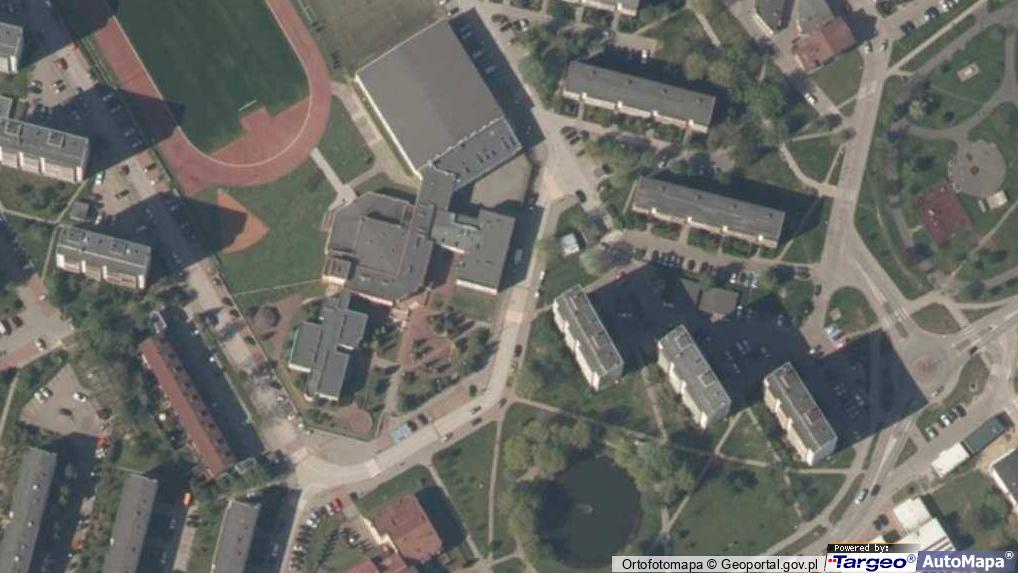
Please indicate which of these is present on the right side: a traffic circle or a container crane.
traffic circle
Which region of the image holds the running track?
top left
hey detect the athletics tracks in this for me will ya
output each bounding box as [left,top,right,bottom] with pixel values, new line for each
[77,0,332,195]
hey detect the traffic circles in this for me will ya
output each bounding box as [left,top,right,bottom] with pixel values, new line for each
[890,331,962,403]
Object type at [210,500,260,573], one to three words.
building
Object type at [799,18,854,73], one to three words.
house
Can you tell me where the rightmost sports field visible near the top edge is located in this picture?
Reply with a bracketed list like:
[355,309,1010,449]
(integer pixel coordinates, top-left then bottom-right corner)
[305,0,446,76]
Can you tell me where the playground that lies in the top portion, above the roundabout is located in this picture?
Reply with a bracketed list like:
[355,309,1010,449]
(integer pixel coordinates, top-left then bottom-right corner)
[915,181,972,247]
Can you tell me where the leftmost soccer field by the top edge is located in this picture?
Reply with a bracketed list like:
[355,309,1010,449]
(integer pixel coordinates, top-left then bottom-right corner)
[105,0,309,153]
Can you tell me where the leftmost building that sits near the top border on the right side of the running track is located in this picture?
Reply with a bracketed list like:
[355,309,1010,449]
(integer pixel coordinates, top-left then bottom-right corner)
[357,21,504,177]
